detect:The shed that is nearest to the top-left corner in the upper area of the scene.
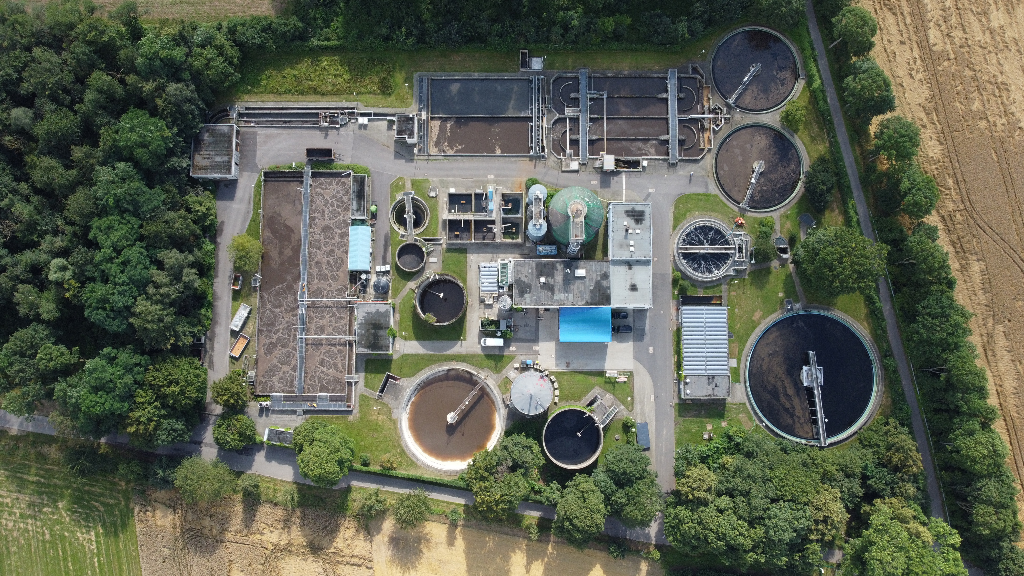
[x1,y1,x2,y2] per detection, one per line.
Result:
[190,114,240,178]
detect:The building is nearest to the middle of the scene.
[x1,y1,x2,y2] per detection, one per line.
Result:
[513,259,610,308]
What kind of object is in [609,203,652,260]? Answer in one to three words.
building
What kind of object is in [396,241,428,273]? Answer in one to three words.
storage tank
